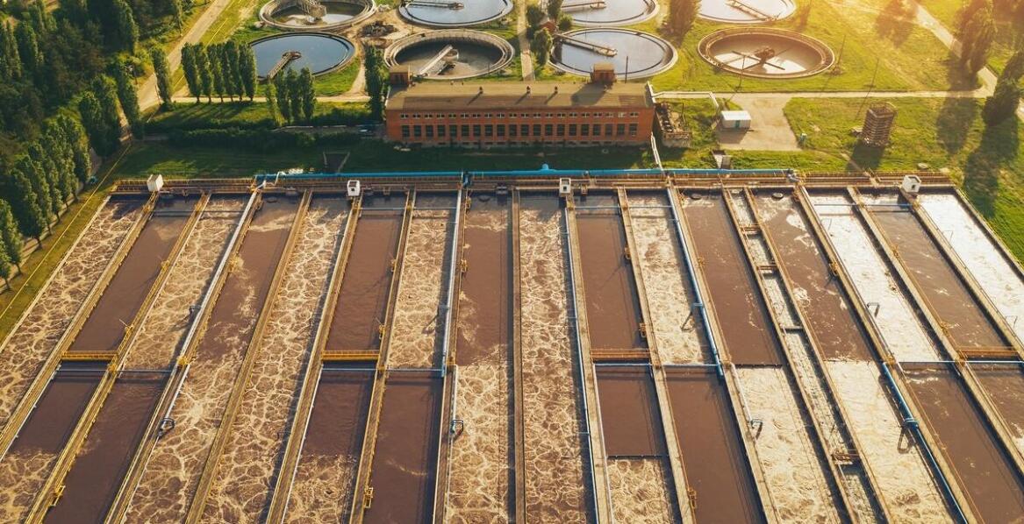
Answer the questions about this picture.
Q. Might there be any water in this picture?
Yes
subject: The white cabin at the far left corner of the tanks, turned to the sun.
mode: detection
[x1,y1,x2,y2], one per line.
[143,173,163,196]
